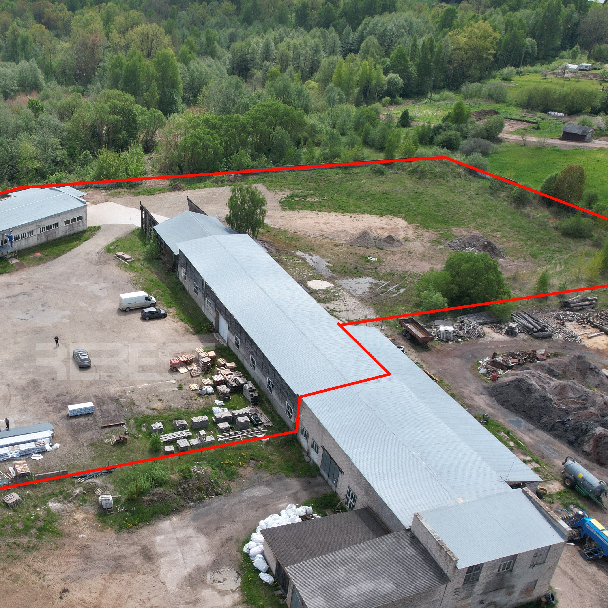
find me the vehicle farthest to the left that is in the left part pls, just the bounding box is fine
[71,348,93,370]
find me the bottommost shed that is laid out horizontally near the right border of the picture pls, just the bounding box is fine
[561,123,595,140]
